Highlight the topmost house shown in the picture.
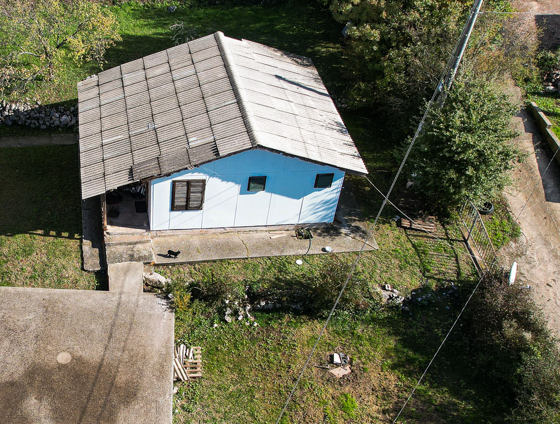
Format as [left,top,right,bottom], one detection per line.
[78,32,367,238]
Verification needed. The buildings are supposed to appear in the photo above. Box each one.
[0,288,174,424]
[78,32,367,238]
